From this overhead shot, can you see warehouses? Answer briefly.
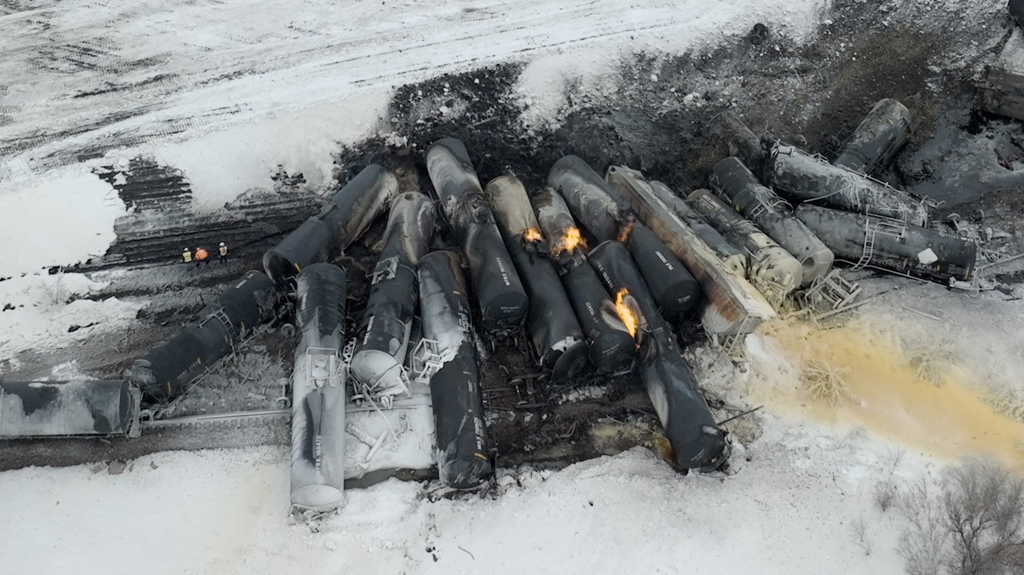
No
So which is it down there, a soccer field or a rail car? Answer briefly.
rail car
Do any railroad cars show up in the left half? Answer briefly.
Yes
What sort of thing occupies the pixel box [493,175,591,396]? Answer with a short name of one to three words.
rail car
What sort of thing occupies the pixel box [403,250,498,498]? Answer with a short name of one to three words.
rail car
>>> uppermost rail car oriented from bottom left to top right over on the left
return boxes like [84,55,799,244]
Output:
[266,166,398,290]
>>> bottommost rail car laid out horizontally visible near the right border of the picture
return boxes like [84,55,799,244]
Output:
[805,195,998,296]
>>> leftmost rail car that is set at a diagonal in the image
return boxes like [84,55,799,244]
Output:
[122,271,291,410]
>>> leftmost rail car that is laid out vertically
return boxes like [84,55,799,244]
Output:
[287,260,355,534]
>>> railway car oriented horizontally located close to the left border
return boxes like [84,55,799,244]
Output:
[0,378,151,438]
